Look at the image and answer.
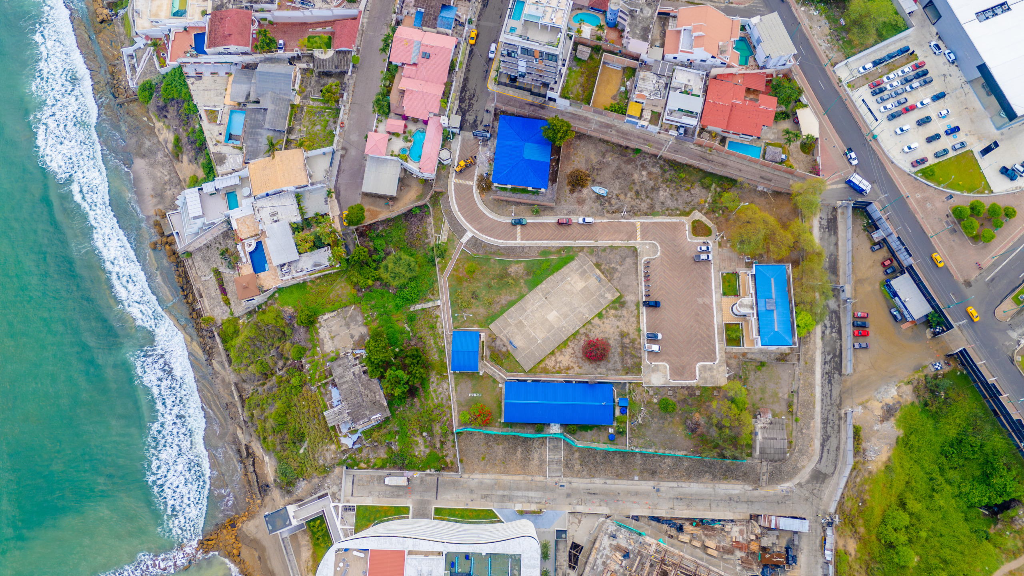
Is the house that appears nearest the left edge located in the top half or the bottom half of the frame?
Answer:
top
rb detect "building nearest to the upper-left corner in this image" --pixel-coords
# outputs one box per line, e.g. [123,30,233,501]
[133,0,216,38]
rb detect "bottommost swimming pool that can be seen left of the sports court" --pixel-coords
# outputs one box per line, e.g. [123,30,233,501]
[247,239,271,275]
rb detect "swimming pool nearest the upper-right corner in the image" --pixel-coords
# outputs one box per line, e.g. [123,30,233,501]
[733,35,754,67]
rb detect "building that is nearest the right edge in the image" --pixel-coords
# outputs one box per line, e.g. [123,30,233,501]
[913,0,1024,131]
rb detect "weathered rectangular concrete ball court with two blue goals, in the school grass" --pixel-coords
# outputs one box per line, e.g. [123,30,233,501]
[489,253,620,372]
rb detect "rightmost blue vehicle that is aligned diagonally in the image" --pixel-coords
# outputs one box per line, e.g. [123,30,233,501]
[1001,165,1020,179]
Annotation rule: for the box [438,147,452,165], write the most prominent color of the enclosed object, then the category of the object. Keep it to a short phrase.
white gazebo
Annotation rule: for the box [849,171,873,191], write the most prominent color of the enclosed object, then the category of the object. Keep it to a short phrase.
white vehicle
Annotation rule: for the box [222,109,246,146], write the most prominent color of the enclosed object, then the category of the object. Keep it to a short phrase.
blue swimming pool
